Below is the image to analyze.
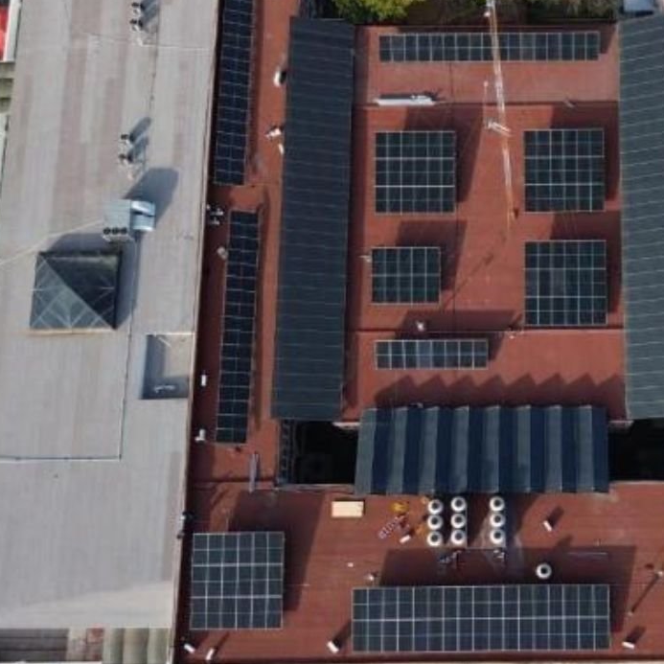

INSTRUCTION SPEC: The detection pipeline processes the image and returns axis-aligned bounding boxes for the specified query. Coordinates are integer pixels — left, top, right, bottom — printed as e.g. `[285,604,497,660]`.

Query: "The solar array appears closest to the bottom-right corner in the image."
[352,580,609,653]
